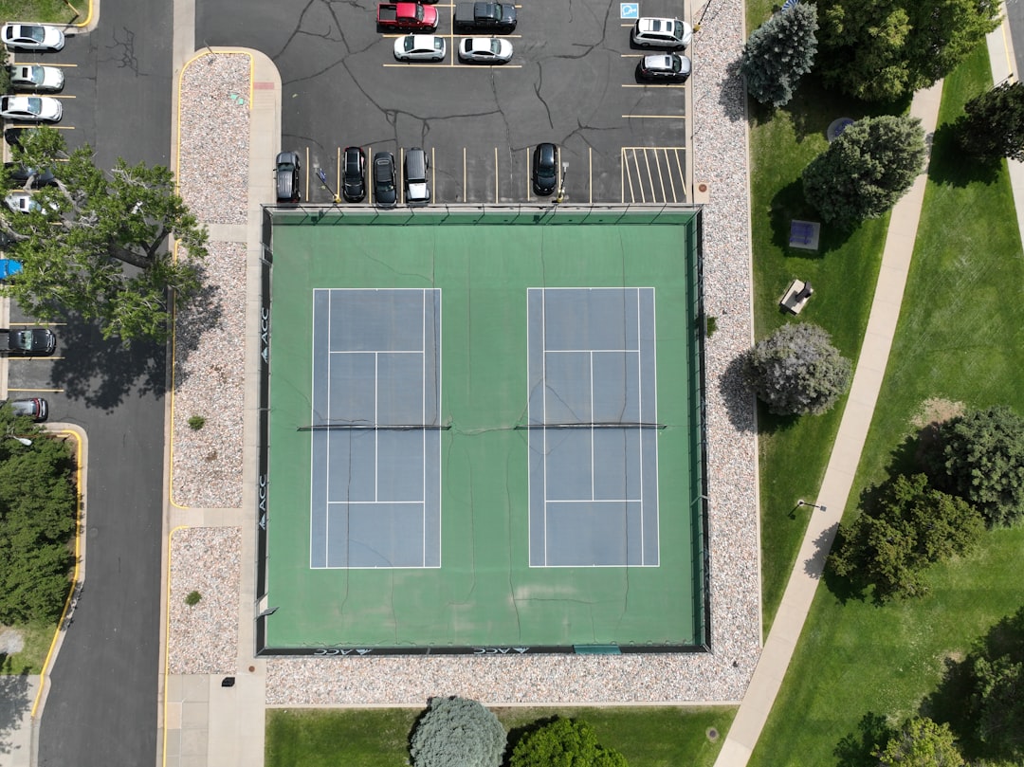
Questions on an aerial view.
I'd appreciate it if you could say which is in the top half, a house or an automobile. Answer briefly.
automobile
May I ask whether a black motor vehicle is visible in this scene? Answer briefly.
Yes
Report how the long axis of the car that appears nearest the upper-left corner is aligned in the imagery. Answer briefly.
from side to side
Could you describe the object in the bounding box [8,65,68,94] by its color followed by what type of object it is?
white car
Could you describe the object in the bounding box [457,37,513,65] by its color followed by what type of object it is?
white car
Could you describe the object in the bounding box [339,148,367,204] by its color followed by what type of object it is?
black car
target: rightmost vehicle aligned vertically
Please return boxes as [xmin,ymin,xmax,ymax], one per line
[532,145,559,199]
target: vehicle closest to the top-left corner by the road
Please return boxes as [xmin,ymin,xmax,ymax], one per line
[5,24,66,54]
